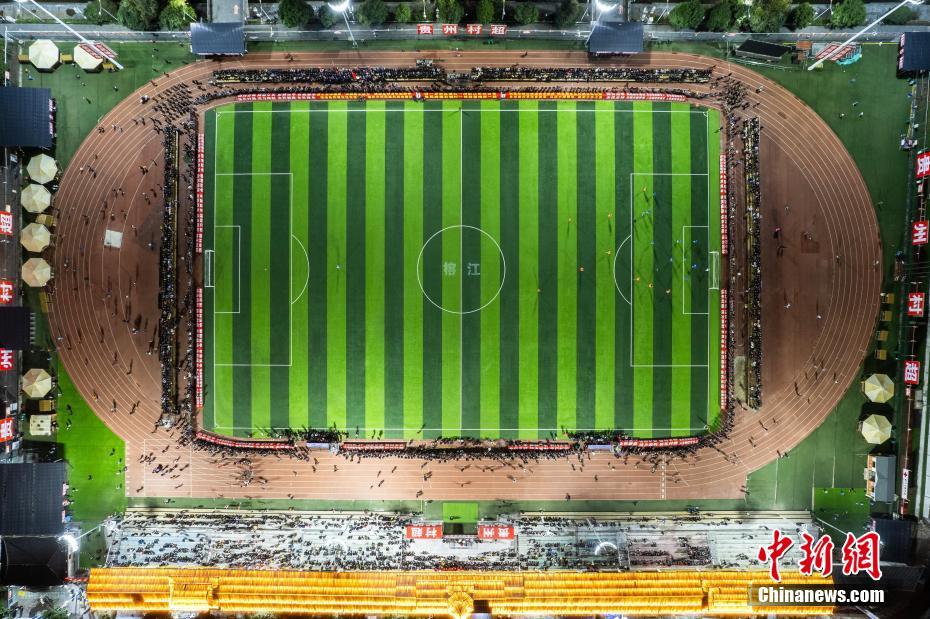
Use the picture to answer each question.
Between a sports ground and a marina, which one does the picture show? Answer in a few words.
sports ground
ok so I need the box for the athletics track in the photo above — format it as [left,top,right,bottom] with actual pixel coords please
[45,48,882,500]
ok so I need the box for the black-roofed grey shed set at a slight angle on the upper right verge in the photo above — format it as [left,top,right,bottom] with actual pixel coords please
[730,40,791,64]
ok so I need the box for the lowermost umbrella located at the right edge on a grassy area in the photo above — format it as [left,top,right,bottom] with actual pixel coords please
[857,415,890,443]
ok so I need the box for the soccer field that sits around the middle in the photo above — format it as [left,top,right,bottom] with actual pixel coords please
[197,98,726,443]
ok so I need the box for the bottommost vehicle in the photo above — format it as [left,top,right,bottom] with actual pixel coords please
[4,150,17,165]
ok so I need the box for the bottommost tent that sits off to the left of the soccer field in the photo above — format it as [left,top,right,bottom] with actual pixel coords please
[30,415,56,435]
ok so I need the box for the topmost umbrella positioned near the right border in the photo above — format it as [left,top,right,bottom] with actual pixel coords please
[860,375,893,402]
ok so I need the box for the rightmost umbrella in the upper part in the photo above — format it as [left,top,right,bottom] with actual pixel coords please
[74,42,103,69]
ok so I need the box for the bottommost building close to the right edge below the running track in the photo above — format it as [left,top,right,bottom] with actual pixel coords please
[819,556,928,619]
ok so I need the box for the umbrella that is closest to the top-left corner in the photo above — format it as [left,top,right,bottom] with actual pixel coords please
[29,40,62,69]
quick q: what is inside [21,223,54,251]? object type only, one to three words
umbrella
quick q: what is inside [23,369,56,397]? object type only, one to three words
umbrella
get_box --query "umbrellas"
[29,40,62,69]
[860,375,893,402]
[22,184,56,212]
[74,42,103,69]
[21,223,54,251]
[857,415,890,443]
[23,259,56,286]
[23,369,56,397]
[27,153,62,184]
